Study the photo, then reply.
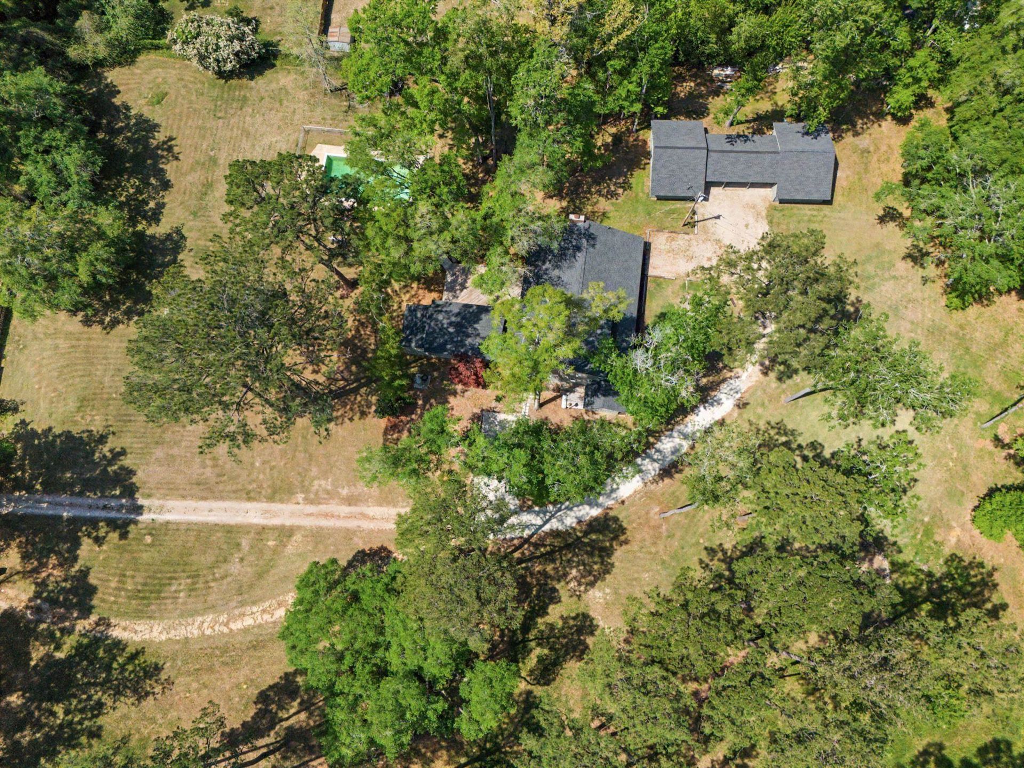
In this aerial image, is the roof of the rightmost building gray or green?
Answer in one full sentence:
The roof of the rightmost building is gray.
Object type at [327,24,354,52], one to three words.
shed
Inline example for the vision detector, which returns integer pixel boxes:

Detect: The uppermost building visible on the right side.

[648,120,836,206]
